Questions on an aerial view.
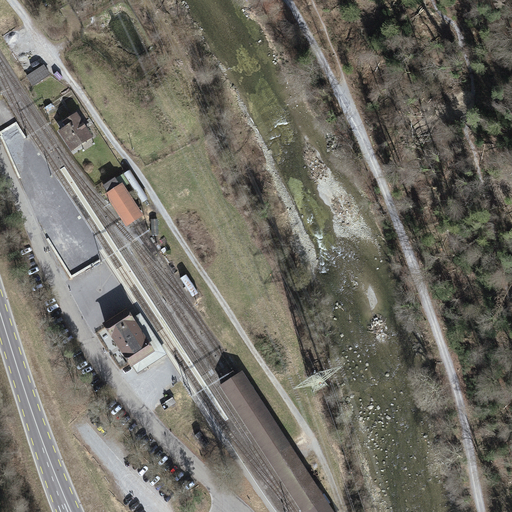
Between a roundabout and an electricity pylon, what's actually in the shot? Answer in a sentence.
Looking from above, you can make out an electricity pylon.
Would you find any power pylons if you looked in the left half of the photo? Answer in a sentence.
No, in the left half of the photo there is no power pylon.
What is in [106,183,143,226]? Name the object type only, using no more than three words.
shed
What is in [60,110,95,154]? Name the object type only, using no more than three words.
house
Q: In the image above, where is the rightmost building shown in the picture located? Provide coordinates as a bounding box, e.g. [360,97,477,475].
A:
[220,370,337,512]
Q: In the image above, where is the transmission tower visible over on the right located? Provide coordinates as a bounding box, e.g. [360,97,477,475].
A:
[296,366,345,391]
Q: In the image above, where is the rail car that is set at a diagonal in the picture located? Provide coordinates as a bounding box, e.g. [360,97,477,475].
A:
[181,274,198,296]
